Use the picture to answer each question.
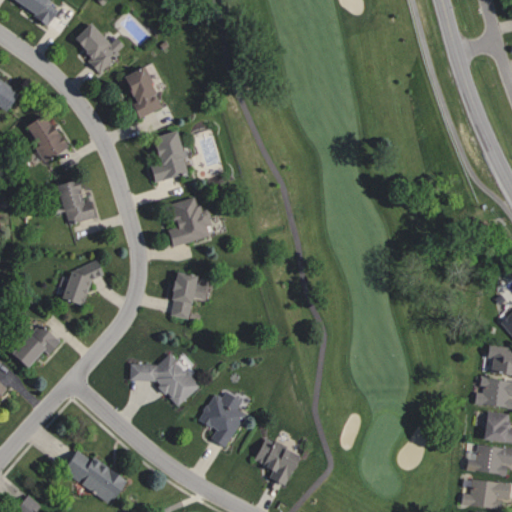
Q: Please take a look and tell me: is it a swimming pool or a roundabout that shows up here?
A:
swimming pool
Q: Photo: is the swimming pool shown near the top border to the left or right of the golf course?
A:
to the left of it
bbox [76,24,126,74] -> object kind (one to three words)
house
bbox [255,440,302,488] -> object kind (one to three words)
house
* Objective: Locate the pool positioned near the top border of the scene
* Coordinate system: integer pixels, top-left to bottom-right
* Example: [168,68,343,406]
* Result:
[115,13,150,46]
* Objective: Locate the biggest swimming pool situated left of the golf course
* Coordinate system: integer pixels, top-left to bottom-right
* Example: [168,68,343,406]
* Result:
[191,129,223,180]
